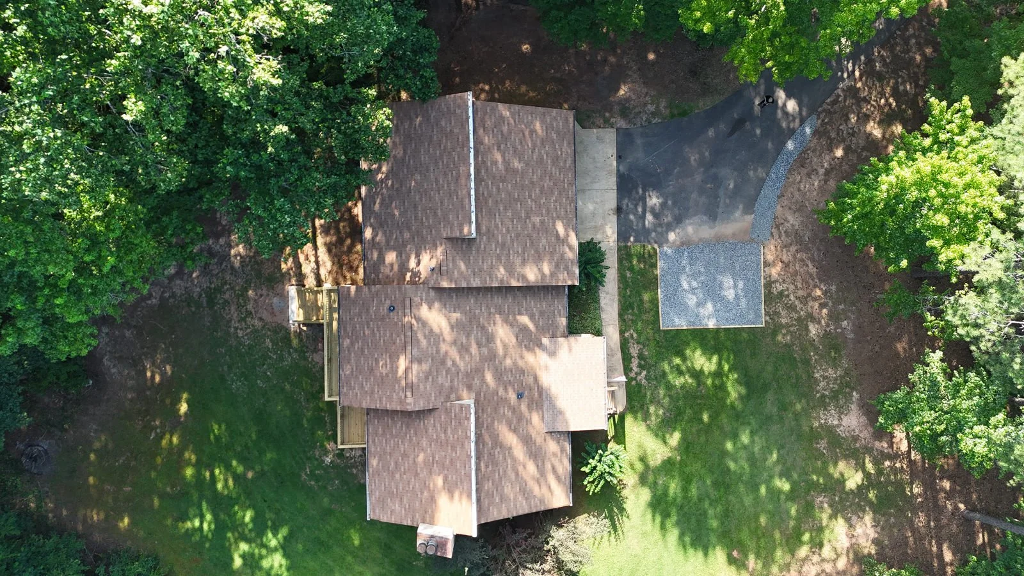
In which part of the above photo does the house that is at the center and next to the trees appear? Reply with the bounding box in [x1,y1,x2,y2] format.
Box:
[335,91,609,558]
